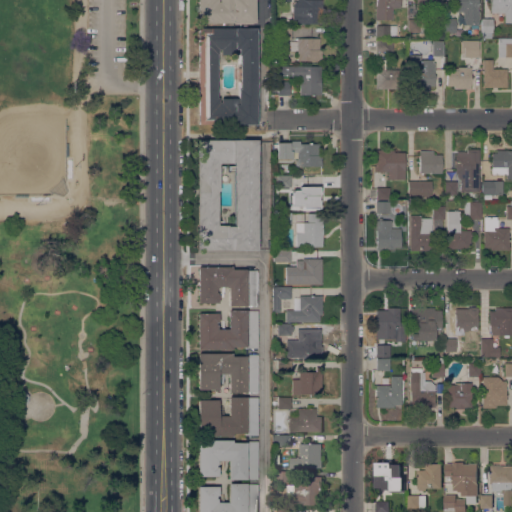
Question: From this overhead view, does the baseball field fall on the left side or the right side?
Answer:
left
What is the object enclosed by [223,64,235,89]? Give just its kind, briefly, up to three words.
swimming pool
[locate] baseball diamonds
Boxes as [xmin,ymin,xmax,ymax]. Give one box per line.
[0,0,89,222]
